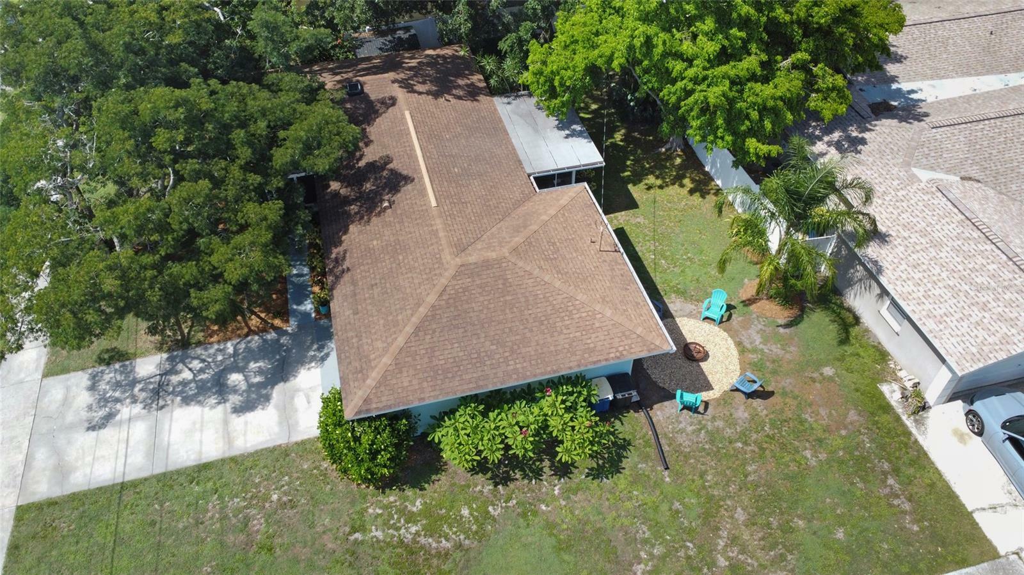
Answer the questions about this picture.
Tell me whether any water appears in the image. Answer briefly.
No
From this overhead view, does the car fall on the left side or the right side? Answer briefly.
right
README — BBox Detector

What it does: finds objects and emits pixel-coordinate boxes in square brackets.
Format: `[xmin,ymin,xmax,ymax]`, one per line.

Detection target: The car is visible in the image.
[955,379,1024,485]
